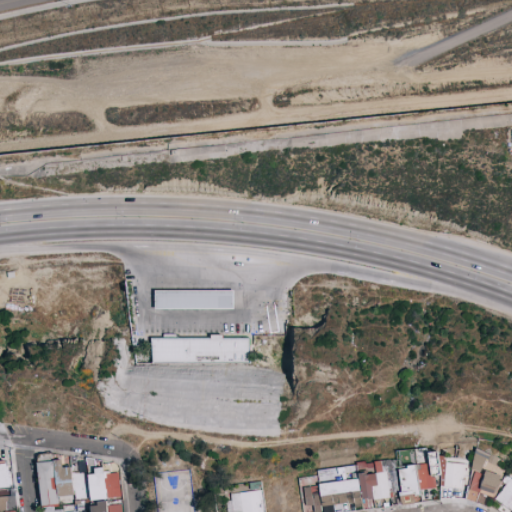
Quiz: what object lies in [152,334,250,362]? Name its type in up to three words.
building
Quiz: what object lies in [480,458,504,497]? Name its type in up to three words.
house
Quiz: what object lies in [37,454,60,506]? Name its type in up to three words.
house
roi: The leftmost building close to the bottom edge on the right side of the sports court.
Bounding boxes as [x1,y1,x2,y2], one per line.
[228,480,264,512]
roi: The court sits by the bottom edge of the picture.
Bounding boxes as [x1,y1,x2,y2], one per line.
[155,470,194,512]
